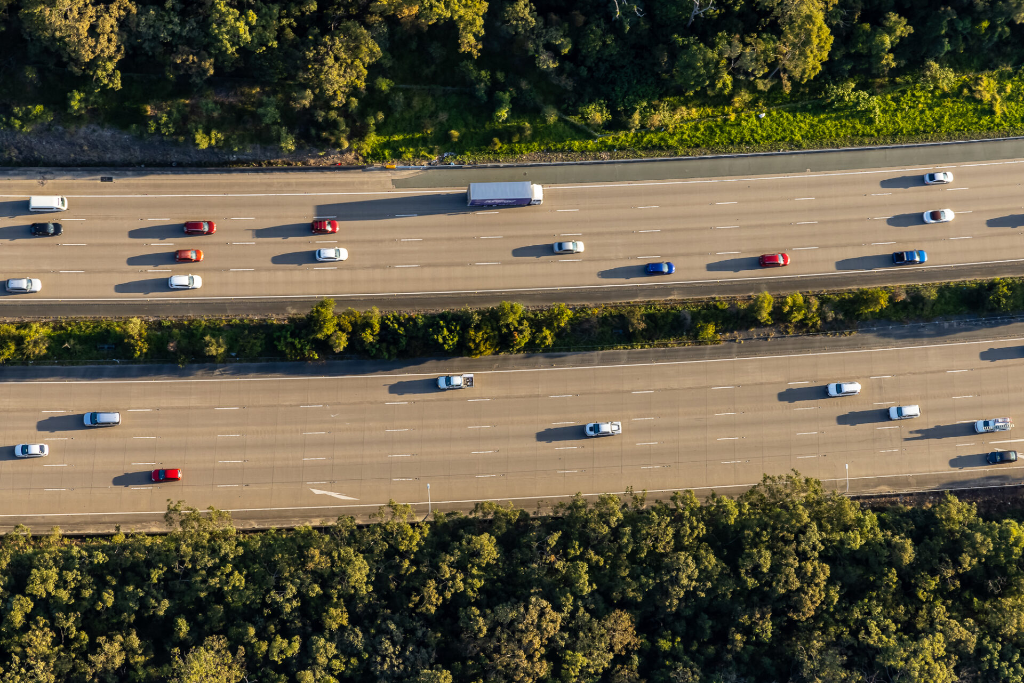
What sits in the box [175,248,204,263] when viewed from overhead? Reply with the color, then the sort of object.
red car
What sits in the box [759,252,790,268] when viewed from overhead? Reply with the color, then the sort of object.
red car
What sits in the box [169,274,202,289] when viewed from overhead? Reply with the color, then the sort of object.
white car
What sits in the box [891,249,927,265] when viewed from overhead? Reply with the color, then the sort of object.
blue vehicle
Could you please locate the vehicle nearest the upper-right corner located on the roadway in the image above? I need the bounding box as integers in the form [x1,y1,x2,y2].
[923,171,954,186]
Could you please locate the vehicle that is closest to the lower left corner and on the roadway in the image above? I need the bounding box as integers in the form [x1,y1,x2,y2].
[15,443,49,458]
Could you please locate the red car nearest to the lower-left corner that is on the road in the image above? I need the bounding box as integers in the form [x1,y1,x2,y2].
[152,468,182,482]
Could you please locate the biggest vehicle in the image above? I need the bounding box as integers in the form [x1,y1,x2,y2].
[467,182,541,207]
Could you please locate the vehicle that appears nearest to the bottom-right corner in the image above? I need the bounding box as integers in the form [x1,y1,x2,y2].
[986,450,1018,465]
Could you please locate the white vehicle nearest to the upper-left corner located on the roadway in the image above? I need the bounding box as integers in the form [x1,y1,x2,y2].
[29,196,68,213]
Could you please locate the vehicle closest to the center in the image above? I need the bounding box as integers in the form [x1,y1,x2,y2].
[437,374,474,390]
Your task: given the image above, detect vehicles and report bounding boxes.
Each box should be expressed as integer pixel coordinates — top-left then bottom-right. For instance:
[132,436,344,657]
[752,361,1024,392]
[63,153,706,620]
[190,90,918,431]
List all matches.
[922,209,954,224]
[6,277,41,293]
[584,422,622,437]
[759,252,790,268]
[184,220,216,235]
[15,443,49,458]
[825,382,861,397]
[169,274,202,289]
[553,240,584,255]
[887,405,922,421]
[986,450,1018,465]
[84,411,122,427]
[152,468,182,482]
[31,222,63,237]
[923,171,954,186]
[175,248,204,263]
[437,374,474,390]
[644,261,675,276]
[29,196,68,213]
[467,182,541,207]
[311,219,339,234]
[891,249,927,265]
[974,417,1012,434]
[316,247,348,262]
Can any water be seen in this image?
No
